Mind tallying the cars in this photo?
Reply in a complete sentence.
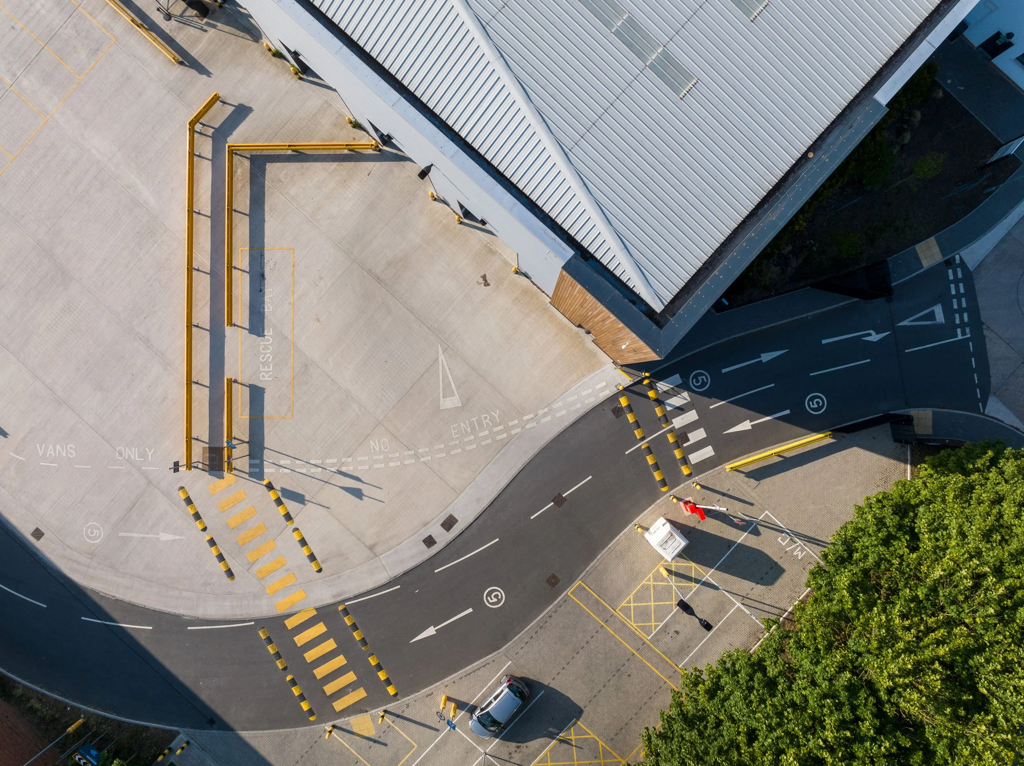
Only 1 car is visible.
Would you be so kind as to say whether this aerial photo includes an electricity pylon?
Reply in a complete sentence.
No, no electricity pylon is visible in the view.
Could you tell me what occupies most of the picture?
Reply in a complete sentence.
The bulk of the photo consists of paved ground.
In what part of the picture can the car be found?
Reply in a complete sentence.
Look in the bottom portion of the view to spot the car.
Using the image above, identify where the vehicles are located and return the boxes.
[466,674,533,744]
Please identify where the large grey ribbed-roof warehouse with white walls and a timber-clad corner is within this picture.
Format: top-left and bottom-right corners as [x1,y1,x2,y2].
[237,0,980,367]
